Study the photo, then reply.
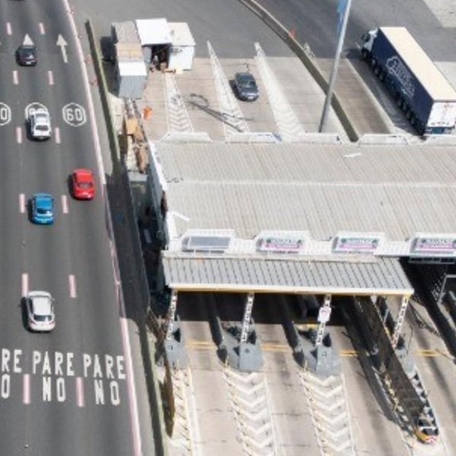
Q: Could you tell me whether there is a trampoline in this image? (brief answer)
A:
No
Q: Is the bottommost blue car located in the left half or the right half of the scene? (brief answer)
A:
left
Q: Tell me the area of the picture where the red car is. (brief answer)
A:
left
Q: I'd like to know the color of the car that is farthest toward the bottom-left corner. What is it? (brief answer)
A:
white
